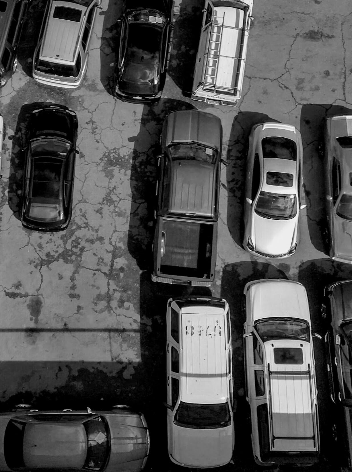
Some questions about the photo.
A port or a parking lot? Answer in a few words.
parking lot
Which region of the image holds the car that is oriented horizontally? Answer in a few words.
bottom left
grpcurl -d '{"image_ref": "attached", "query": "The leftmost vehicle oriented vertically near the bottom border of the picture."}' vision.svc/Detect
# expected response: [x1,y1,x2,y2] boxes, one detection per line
[166,299,238,469]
